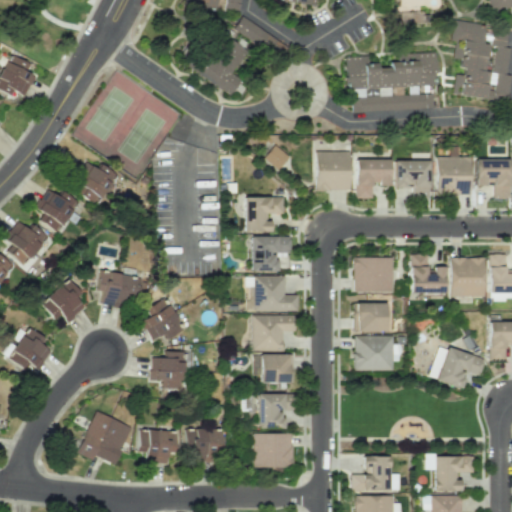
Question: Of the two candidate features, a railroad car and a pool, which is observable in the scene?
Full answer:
The image shows a pool.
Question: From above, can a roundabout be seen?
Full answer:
Yes, you can see a roundabout in this photo.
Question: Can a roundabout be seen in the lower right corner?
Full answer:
No, no roundabout is visible in the lower right corner.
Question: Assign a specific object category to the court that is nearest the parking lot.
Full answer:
What you see as the court that is nearest the parking lot is a tennis court.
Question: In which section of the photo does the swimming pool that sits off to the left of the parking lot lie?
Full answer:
Look in the left portion of the view to spot the swimming pool that sits off to the left of the parking lot.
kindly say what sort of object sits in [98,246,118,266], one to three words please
swimming pool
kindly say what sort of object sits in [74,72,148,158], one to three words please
tennis court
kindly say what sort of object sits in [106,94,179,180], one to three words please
tennis court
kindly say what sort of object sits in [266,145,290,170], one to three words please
house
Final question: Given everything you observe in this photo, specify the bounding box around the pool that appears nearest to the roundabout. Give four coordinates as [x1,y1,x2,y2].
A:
[220,156,234,183]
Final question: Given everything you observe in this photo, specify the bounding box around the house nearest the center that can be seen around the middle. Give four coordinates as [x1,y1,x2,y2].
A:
[246,237,292,272]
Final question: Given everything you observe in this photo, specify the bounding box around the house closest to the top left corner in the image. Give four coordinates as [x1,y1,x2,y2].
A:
[0,51,37,100]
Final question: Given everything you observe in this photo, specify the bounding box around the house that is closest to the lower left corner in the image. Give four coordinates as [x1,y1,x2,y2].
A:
[78,412,130,468]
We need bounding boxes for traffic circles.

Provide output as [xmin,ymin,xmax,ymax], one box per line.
[270,62,328,120]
